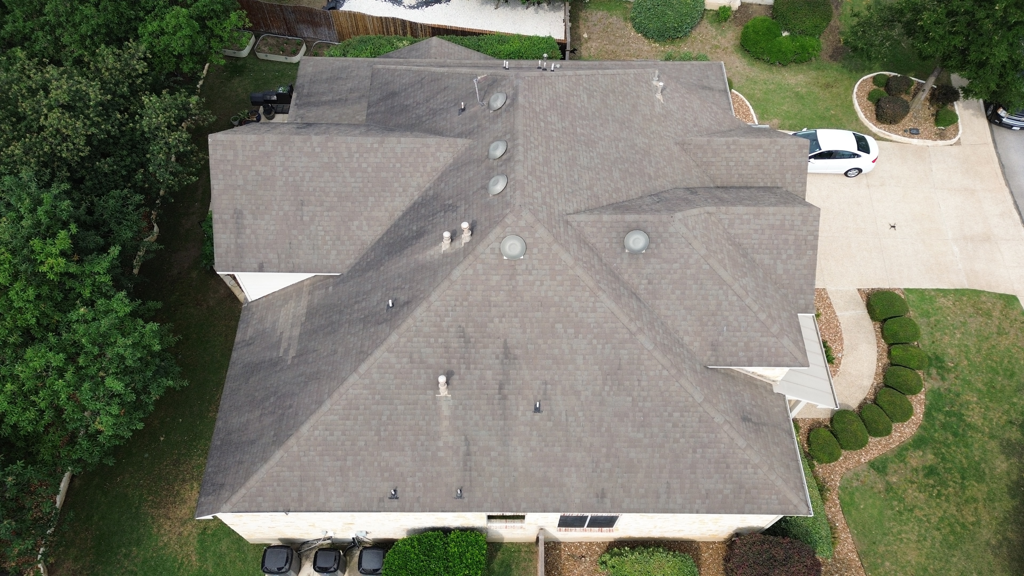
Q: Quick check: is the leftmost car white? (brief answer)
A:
Yes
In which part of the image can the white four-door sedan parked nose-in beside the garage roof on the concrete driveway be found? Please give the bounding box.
[784,122,883,181]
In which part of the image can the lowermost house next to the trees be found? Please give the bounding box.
[197,37,841,556]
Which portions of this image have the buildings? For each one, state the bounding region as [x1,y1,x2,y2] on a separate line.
[197,37,841,556]
[702,0,774,10]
